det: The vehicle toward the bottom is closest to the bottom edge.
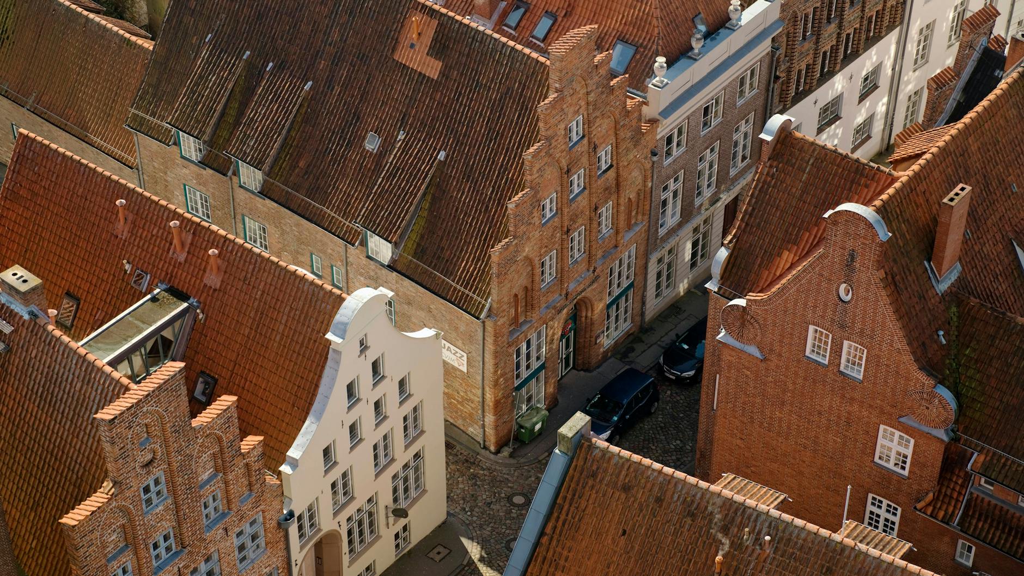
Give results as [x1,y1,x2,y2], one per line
[578,368,663,446]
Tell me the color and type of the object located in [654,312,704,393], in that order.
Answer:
black car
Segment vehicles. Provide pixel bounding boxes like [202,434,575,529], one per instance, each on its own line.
[578,368,663,446]
[654,312,704,393]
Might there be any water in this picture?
No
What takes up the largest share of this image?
buildings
